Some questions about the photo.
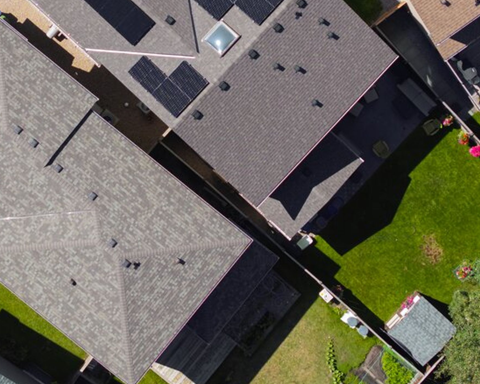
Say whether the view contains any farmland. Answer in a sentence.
No, farmland can't be seen anywhere here.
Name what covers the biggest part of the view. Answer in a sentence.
The bulk of the photo consists of buildings.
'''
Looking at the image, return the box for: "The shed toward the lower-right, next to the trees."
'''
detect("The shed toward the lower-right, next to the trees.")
[386,295,456,367]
